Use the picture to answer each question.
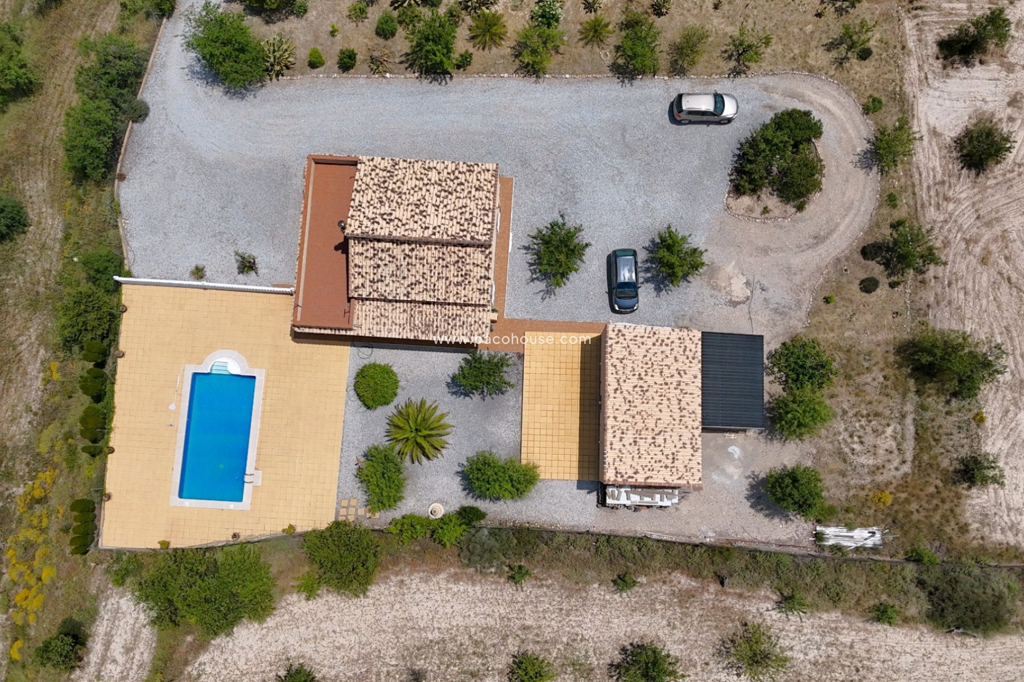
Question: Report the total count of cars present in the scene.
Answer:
2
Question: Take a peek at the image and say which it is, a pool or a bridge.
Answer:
pool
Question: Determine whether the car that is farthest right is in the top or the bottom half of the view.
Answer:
top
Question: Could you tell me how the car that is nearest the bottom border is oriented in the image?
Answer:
from top to bottom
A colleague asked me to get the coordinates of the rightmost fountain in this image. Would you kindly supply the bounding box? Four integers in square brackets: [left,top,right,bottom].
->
[427,502,444,519]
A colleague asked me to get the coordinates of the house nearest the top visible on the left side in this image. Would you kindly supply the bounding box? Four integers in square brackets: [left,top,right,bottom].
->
[292,155,500,346]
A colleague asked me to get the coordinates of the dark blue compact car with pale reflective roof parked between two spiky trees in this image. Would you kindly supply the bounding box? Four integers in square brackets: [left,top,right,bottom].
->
[611,249,644,314]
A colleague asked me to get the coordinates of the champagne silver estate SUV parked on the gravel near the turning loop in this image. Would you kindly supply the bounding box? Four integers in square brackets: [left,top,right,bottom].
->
[677,93,742,128]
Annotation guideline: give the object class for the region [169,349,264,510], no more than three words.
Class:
swimming pool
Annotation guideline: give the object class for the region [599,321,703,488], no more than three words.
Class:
shed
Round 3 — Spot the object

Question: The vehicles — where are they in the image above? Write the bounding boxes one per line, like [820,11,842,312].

[611,249,644,314]
[677,93,742,128]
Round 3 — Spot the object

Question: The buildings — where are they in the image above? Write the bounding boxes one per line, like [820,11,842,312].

[292,155,500,346]
[599,321,703,488]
